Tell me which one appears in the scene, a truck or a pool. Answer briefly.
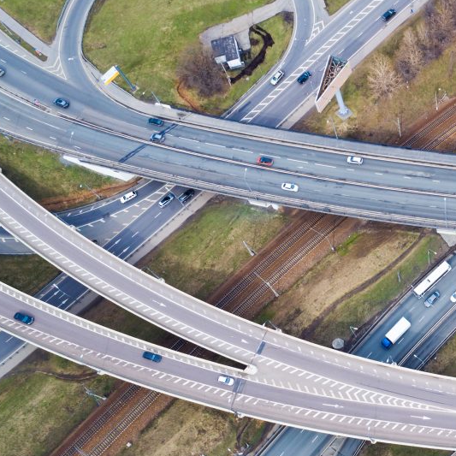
truck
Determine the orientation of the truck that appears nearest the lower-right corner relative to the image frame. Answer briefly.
at an angle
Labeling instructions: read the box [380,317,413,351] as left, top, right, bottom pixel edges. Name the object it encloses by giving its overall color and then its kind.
white truck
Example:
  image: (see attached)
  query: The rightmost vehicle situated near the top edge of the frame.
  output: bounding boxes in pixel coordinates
[381,9,397,21]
